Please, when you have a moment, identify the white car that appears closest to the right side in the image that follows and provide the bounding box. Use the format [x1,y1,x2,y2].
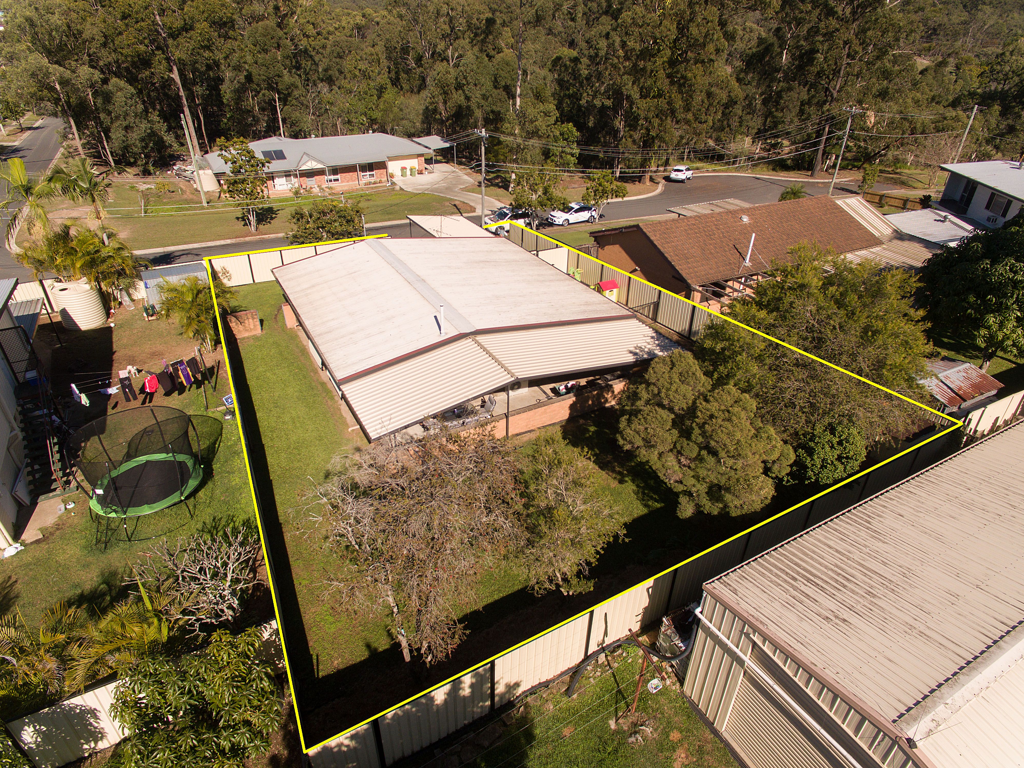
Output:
[673,164,699,182]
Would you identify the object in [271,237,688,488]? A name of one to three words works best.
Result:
house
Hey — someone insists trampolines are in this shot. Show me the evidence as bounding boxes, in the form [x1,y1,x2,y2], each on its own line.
[64,404,211,540]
